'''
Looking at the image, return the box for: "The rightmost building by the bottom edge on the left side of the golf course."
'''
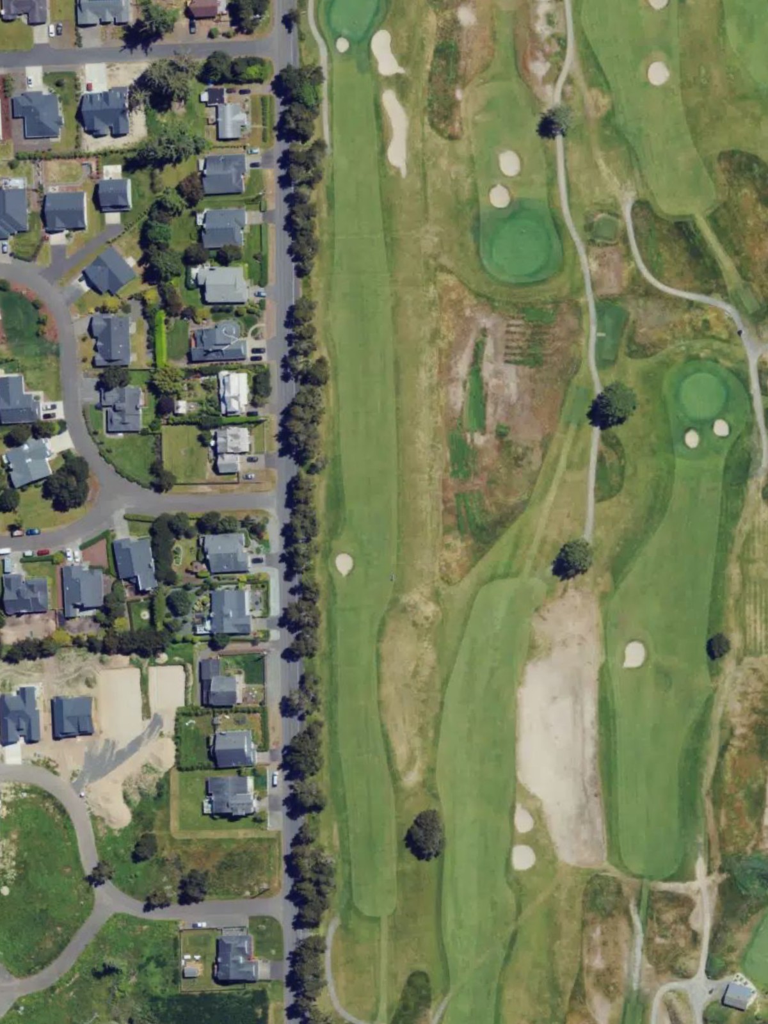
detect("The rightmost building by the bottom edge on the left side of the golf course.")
[217,935,258,983]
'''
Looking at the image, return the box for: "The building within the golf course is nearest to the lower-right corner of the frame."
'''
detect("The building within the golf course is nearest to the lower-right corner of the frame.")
[723,984,755,1010]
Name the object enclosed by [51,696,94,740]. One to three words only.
house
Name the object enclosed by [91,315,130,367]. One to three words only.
house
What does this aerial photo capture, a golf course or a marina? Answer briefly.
golf course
